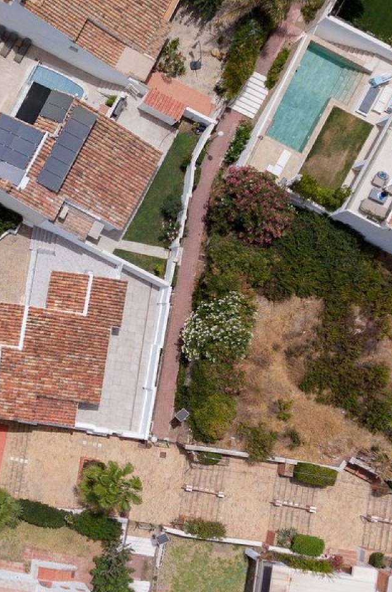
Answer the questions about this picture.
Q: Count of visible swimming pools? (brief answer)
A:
two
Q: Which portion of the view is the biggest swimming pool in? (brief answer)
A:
top right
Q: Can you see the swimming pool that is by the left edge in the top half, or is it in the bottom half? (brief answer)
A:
top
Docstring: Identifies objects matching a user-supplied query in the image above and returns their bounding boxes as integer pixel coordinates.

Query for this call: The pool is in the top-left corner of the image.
[8,59,89,120]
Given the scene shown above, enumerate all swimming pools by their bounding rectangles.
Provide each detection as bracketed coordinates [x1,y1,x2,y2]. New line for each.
[8,59,89,120]
[257,33,377,162]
